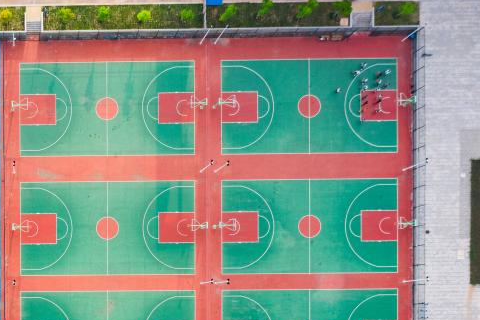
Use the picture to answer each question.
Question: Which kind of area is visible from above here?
sports ground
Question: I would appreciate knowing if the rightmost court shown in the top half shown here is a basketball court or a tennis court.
basketball court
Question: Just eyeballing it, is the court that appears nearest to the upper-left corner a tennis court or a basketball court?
basketball court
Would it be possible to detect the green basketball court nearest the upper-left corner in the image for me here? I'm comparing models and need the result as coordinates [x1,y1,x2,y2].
[20,60,195,157]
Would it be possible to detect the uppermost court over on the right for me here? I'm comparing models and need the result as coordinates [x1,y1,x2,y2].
[221,58,398,154]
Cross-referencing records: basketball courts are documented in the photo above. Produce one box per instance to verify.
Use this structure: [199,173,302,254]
[221,289,398,320]
[221,58,398,154]
[20,179,196,276]
[221,178,398,274]
[20,290,196,320]
[20,60,195,157]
